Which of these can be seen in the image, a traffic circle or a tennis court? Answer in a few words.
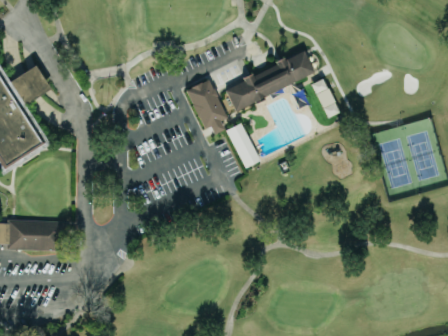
tennis court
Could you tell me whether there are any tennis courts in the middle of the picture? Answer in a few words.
No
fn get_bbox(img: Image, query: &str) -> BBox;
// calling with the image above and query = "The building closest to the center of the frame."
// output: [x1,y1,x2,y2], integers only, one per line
[227,124,260,169]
